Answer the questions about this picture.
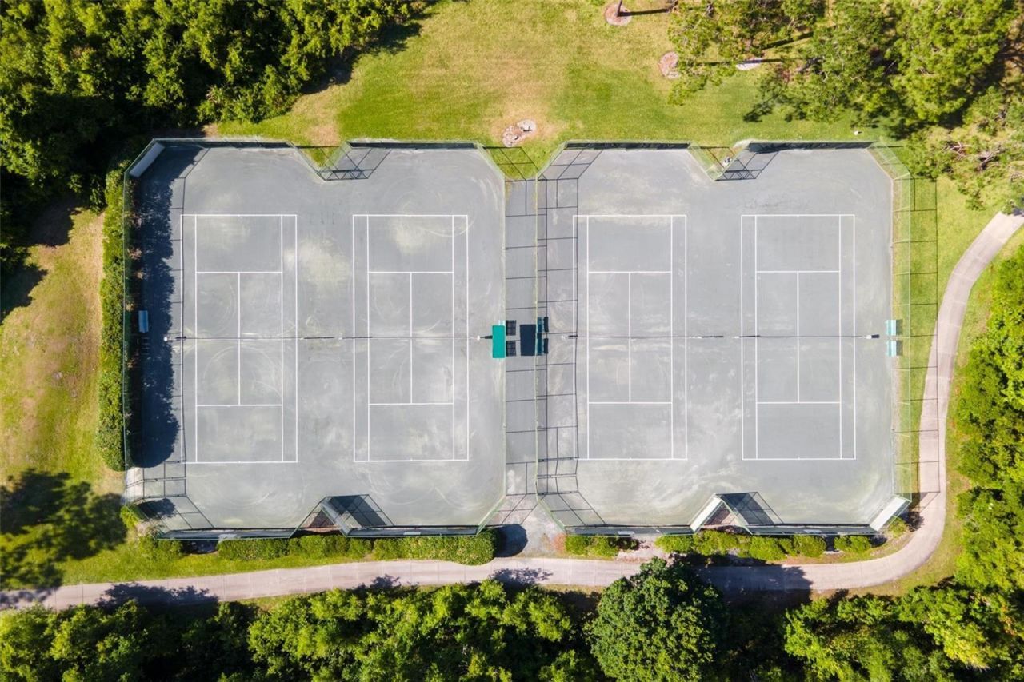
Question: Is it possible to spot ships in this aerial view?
No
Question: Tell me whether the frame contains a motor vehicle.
No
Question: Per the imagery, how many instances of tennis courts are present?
4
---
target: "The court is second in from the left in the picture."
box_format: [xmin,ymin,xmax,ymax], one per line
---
[325,150,505,527]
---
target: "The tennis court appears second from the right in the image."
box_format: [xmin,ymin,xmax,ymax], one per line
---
[538,150,716,526]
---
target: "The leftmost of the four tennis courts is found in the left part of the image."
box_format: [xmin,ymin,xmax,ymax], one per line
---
[142,148,326,530]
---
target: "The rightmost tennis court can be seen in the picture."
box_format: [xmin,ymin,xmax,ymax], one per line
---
[715,150,894,525]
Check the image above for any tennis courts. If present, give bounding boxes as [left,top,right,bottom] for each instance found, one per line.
[325,150,505,527]
[715,150,894,525]
[142,148,326,530]
[538,150,716,526]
